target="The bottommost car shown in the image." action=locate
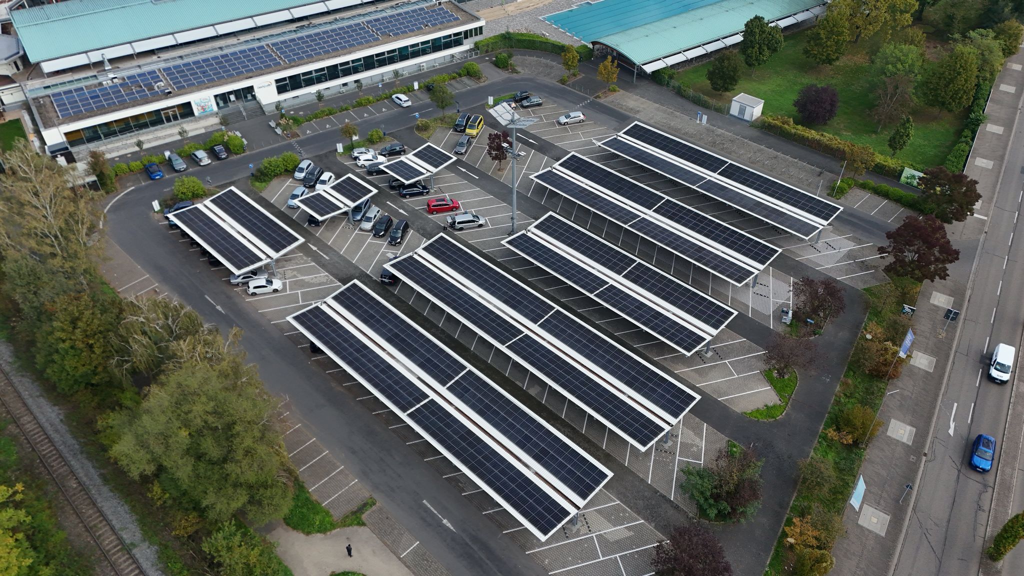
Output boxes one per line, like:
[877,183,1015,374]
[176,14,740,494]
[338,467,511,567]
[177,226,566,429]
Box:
[969,431,996,471]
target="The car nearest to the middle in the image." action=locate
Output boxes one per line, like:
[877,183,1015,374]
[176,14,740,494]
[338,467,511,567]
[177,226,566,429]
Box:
[445,212,486,231]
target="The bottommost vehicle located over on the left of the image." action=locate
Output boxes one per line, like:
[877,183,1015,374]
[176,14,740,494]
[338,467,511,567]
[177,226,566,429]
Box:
[300,339,324,357]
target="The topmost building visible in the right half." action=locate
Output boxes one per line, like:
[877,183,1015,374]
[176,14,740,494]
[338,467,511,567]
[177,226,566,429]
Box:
[594,0,824,85]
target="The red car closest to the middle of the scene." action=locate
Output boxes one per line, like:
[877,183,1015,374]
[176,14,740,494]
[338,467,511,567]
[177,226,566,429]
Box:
[425,196,460,214]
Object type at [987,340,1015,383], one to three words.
vehicle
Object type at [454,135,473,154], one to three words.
car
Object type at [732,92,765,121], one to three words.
shed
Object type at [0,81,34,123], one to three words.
building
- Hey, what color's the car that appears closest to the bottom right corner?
blue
